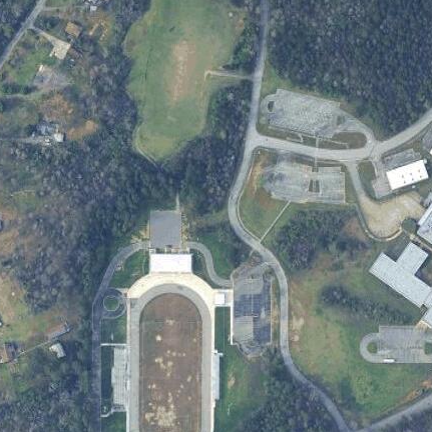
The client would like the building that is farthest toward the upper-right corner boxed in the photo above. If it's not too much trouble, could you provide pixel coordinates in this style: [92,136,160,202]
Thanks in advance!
[385,160,429,190]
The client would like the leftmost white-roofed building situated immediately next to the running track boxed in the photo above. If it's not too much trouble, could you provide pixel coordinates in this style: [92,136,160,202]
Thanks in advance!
[150,254,192,274]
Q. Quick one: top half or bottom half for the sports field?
bottom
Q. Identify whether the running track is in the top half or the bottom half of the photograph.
bottom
